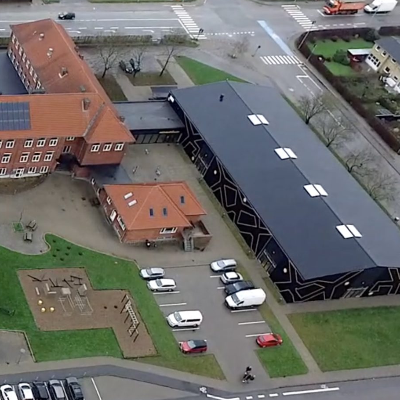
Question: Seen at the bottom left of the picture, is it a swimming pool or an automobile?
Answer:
automobile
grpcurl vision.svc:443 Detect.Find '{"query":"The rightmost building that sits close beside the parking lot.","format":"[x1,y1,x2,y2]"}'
[164,80,400,302]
